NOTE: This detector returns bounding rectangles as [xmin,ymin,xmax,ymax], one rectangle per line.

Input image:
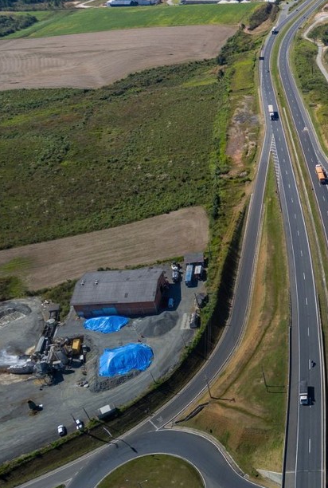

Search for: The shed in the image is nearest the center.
[180,251,207,266]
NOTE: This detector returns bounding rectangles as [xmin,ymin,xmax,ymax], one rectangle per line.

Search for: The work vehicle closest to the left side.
[23,398,42,411]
